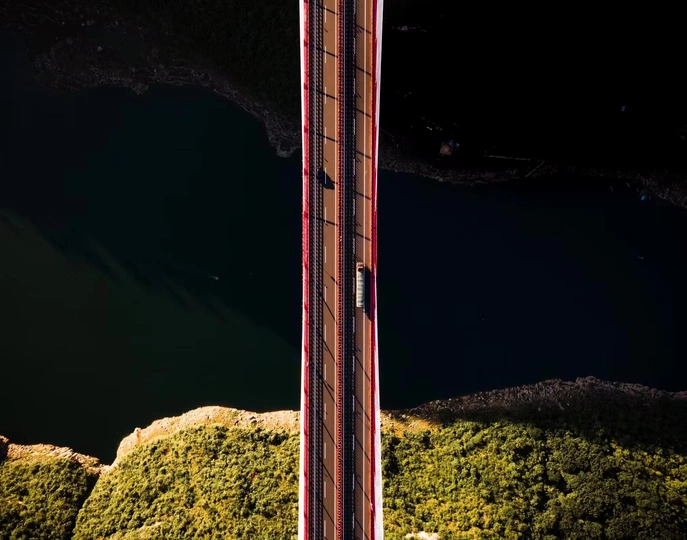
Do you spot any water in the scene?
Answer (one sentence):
Yes, water shows up in the scene.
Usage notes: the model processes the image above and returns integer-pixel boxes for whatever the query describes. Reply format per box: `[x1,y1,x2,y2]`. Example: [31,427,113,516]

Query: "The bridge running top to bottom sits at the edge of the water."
[299,0,384,540]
